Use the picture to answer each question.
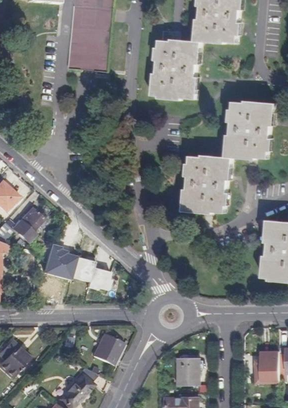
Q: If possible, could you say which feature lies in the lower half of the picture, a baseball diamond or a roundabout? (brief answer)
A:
roundabout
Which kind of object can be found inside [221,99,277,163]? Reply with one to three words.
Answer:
building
